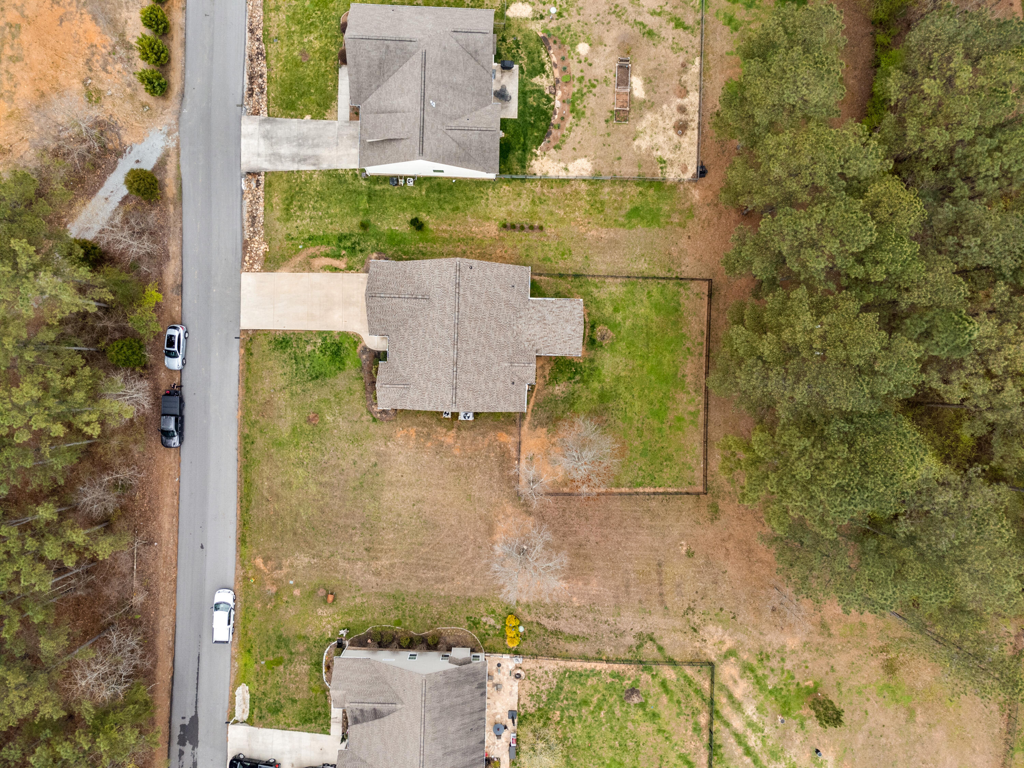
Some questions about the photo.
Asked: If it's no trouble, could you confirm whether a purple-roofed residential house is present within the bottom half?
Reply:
No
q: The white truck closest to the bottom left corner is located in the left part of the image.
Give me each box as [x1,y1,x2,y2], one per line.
[210,588,236,646]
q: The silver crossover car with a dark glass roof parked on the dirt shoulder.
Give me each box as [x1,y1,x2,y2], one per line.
[161,325,189,371]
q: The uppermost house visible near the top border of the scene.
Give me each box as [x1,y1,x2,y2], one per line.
[346,3,503,183]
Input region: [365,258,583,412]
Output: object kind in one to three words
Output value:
house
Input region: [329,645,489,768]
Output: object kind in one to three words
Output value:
house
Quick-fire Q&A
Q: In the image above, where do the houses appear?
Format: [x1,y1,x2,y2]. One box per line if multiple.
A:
[329,645,489,768]
[365,258,583,412]
[346,3,503,183]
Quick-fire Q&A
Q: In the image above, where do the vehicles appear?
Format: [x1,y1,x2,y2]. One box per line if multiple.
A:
[210,588,236,646]
[158,388,186,449]
[227,756,280,768]
[161,325,189,371]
